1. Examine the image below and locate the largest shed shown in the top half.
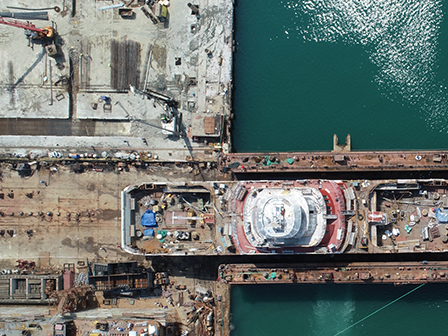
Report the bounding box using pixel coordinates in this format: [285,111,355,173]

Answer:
[188,113,221,135]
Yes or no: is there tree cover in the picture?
No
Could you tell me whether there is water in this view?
Yes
